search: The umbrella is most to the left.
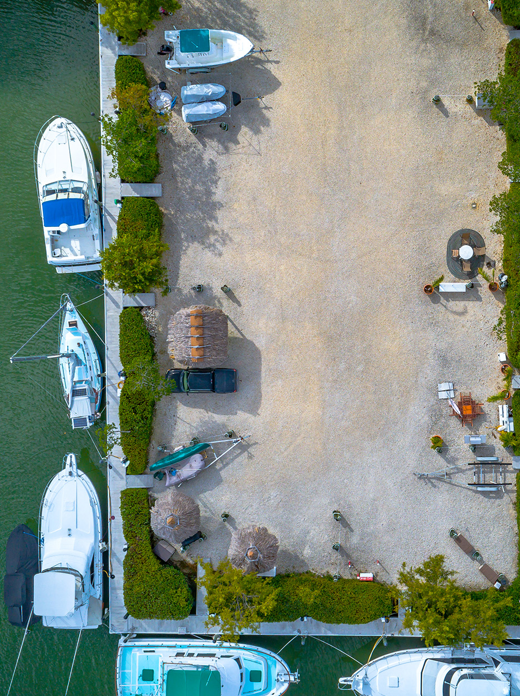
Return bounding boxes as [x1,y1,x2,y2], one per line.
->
[150,491,203,542]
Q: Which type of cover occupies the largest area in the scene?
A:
paved ground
